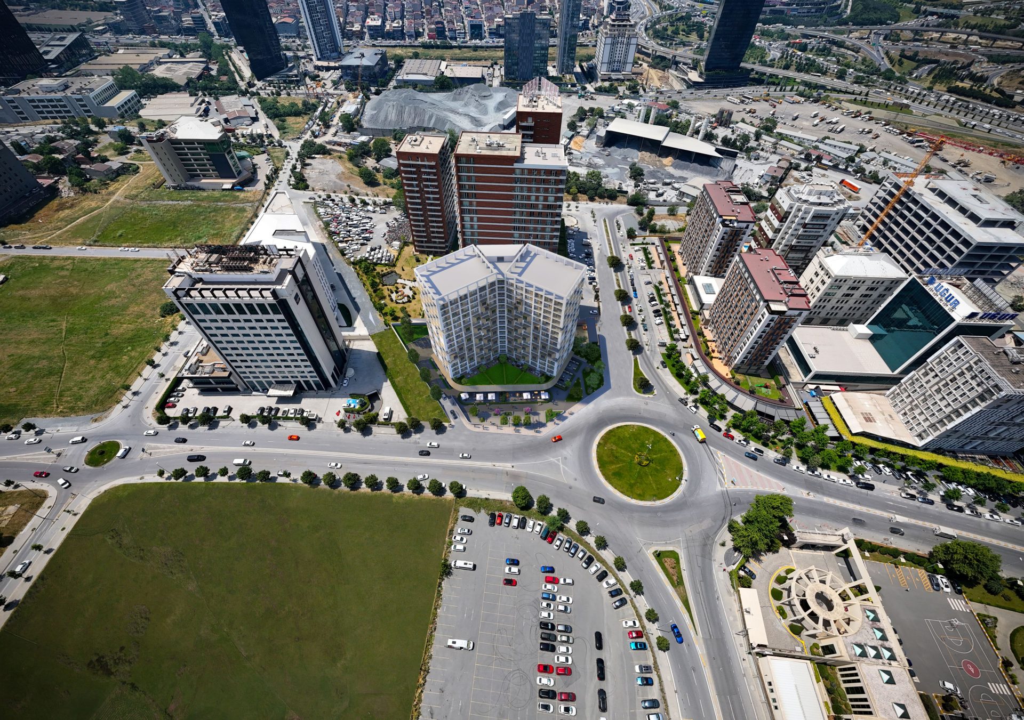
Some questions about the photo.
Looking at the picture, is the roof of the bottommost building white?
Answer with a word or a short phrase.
Yes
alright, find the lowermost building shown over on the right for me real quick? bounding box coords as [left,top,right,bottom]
[749,659,828,720]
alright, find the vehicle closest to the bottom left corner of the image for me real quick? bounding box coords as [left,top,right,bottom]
[18,559,31,573]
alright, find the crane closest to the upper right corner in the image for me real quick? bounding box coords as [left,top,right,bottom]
[855,124,1024,248]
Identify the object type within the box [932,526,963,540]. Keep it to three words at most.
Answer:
vehicle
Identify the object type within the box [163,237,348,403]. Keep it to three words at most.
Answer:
building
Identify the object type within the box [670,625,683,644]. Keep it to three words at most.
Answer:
vehicle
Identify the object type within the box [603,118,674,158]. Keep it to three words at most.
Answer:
shed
